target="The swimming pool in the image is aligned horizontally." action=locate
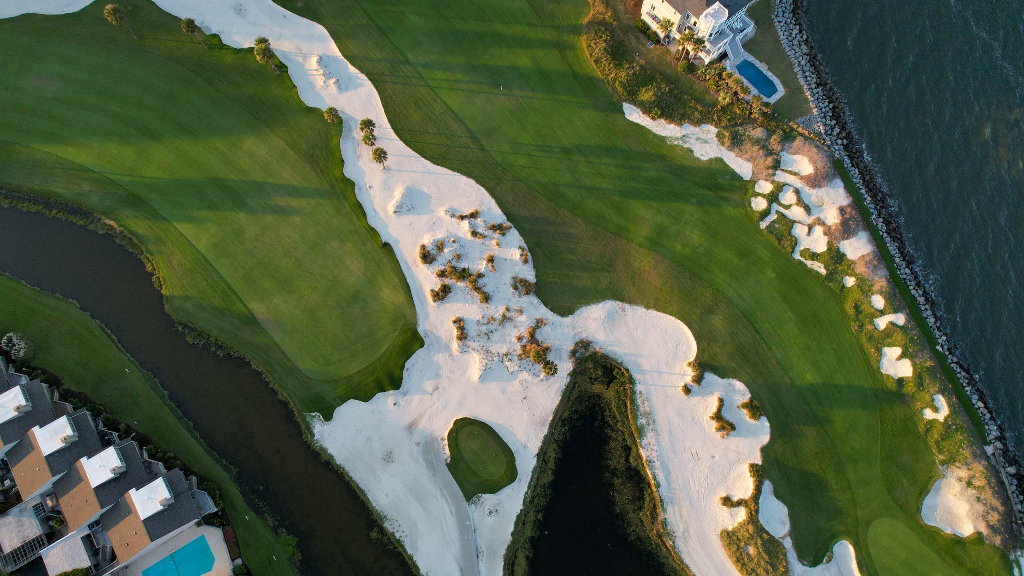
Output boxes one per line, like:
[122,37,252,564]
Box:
[119,527,237,576]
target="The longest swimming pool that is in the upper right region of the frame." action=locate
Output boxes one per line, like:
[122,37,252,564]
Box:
[722,50,784,102]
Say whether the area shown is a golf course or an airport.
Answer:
golf course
